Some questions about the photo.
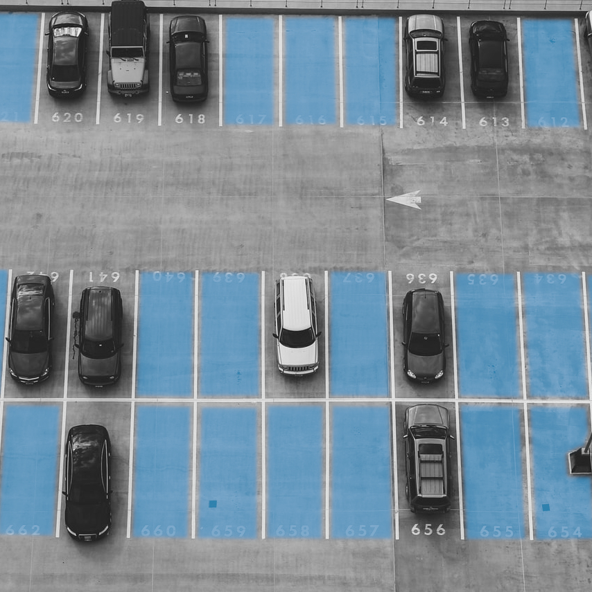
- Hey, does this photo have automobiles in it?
Yes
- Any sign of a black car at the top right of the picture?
Yes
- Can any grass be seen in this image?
No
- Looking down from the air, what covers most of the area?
paved ground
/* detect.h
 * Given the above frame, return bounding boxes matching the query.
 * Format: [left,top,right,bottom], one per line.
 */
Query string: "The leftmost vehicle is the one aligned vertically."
[2,277,58,384]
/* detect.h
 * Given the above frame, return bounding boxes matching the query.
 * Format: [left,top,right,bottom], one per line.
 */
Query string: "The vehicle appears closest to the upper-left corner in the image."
[43,14,92,98]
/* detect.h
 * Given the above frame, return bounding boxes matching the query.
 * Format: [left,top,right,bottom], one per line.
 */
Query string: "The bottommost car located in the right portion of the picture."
[402,404,456,512]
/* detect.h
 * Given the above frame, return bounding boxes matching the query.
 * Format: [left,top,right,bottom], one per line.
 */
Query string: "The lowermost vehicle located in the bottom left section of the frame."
[58,425,116,542]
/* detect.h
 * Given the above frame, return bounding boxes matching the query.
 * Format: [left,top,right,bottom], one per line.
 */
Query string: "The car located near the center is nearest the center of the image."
[269,276,325,378]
